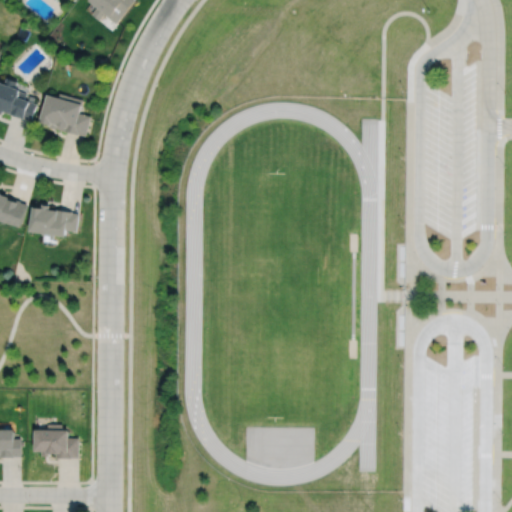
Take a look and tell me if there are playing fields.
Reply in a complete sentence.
Yes, the picture does show a playing field.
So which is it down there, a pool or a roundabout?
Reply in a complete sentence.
There is a pool in the scene.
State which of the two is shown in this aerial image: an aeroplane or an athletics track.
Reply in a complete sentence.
Of the two, only an athletics track appears.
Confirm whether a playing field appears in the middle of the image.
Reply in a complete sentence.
Yes, you'll find a playing field in the middle of the image.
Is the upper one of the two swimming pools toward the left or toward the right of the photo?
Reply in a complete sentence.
The upper one of the two swimming pools sits on the left side.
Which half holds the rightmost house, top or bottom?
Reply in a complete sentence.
The top half of the photo is where the rightmost house is.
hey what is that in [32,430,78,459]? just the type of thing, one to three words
house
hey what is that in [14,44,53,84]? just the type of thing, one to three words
swimming pool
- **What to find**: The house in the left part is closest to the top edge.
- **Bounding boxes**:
[88,0,136,31]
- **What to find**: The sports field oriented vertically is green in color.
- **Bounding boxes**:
[202,120,360,461]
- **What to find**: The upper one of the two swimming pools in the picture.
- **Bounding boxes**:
[22,0,65,22]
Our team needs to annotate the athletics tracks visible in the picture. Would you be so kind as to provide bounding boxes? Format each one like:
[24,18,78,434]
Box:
[185,102,378,486]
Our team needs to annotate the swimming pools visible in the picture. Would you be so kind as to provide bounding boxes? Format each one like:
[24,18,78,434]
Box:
[22,0,65,22]
[14,44,53,84]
